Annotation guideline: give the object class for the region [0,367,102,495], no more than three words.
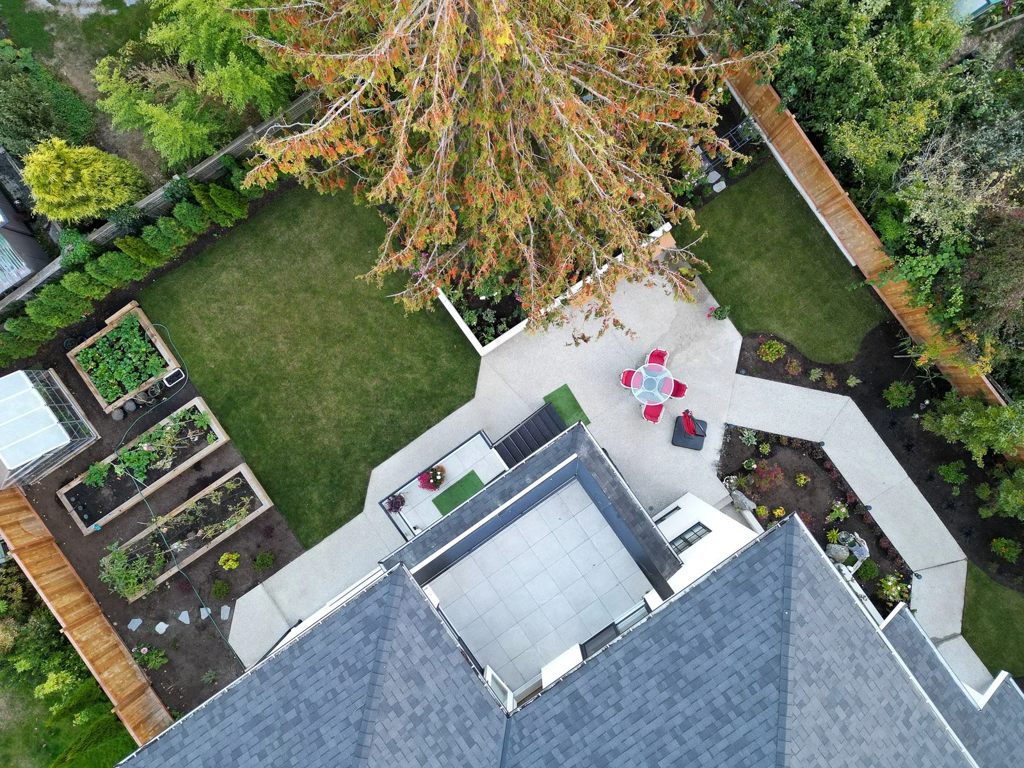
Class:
greenhouse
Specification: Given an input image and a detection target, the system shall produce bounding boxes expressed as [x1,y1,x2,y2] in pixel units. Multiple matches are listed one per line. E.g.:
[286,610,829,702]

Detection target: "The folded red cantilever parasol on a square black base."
[672,409,708,451]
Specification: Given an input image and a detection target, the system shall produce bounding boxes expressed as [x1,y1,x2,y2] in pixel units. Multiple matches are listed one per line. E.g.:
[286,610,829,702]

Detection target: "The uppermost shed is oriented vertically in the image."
[0,188,49,299]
